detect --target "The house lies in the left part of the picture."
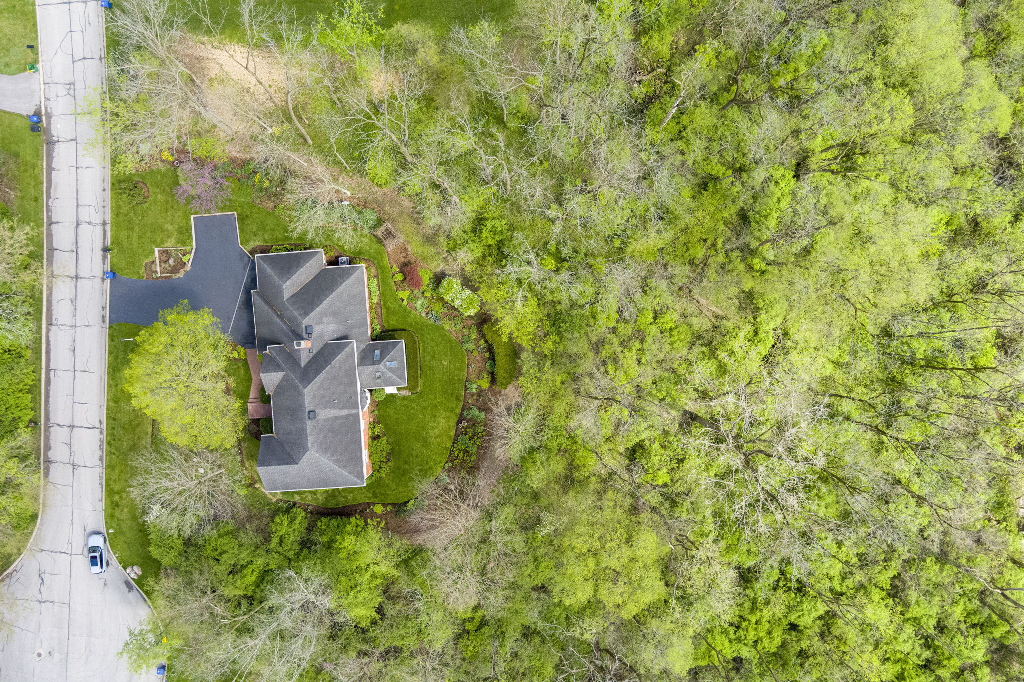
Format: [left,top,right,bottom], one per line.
[251,249,409,492]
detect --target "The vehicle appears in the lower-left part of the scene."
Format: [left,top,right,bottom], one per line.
[83,533,108,575]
